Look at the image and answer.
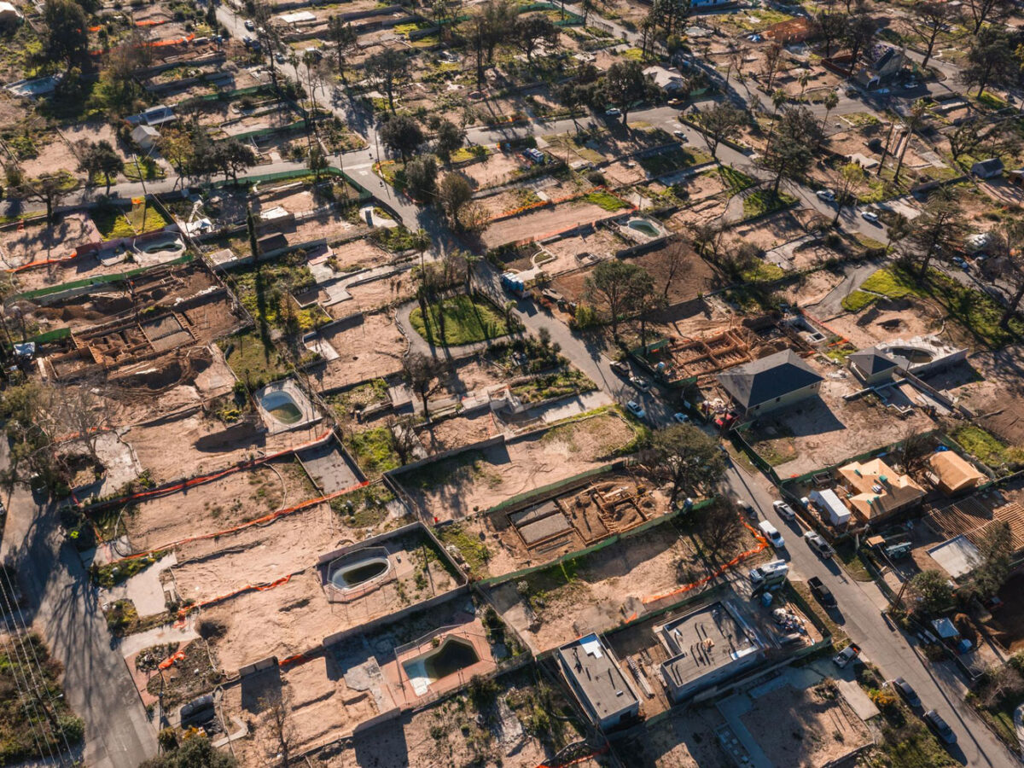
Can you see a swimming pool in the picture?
Yes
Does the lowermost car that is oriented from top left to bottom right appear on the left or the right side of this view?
right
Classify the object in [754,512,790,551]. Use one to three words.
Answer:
van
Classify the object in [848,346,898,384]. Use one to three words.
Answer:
building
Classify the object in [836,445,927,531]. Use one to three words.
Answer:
house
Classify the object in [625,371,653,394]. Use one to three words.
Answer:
car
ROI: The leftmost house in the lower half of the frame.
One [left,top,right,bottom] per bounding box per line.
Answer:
[558,633,639,737]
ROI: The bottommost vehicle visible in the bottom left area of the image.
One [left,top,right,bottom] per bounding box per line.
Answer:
[174,693,220,722]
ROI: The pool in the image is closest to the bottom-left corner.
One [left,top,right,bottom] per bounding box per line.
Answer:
[322,546,399,604]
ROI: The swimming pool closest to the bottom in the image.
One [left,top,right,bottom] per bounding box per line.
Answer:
[383,624,495,703]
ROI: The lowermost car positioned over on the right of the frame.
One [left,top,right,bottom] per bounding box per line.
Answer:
[921,704,965,750]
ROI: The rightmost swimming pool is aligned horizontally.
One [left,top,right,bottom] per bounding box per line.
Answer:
[876,341,950,372]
